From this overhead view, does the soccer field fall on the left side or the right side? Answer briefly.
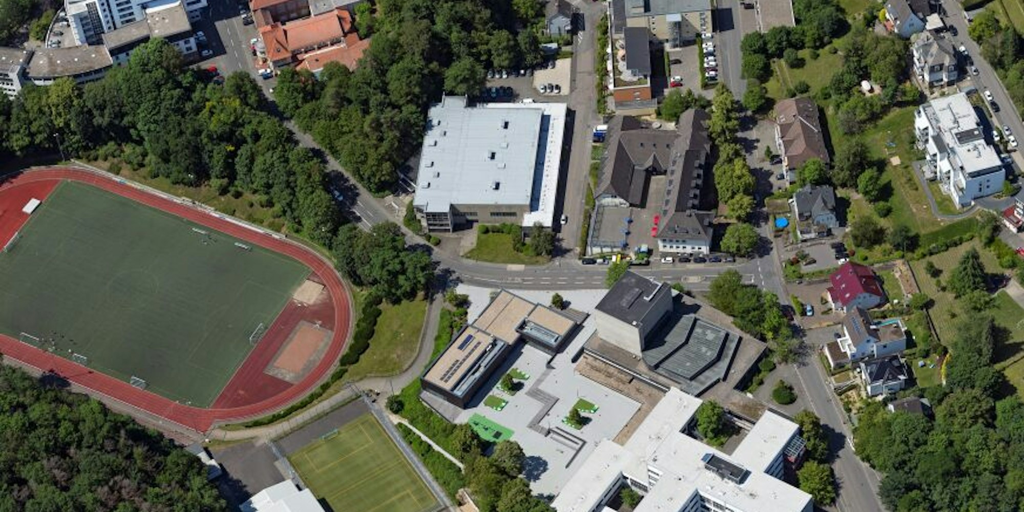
left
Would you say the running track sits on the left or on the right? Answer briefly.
left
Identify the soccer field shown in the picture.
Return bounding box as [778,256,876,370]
[0,176,313,408]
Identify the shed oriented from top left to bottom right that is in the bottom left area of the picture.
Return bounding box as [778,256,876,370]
[186,443,223,486]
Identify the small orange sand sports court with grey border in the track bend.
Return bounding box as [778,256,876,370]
[263,320,334,386]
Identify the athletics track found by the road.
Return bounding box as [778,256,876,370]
[0,159,360,436]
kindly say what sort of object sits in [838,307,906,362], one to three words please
house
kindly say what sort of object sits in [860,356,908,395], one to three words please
house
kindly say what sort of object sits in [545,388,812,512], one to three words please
building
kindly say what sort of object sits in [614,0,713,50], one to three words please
building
